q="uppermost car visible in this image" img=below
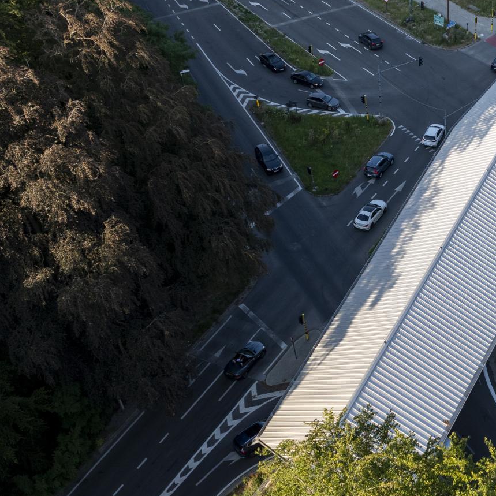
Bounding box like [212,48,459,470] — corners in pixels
[356,34,386,50]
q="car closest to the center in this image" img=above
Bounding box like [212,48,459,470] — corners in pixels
[253,146,283,174]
